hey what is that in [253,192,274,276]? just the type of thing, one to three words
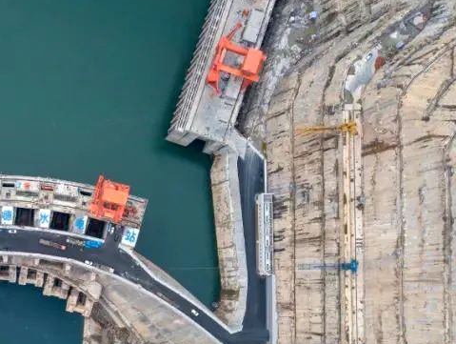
building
